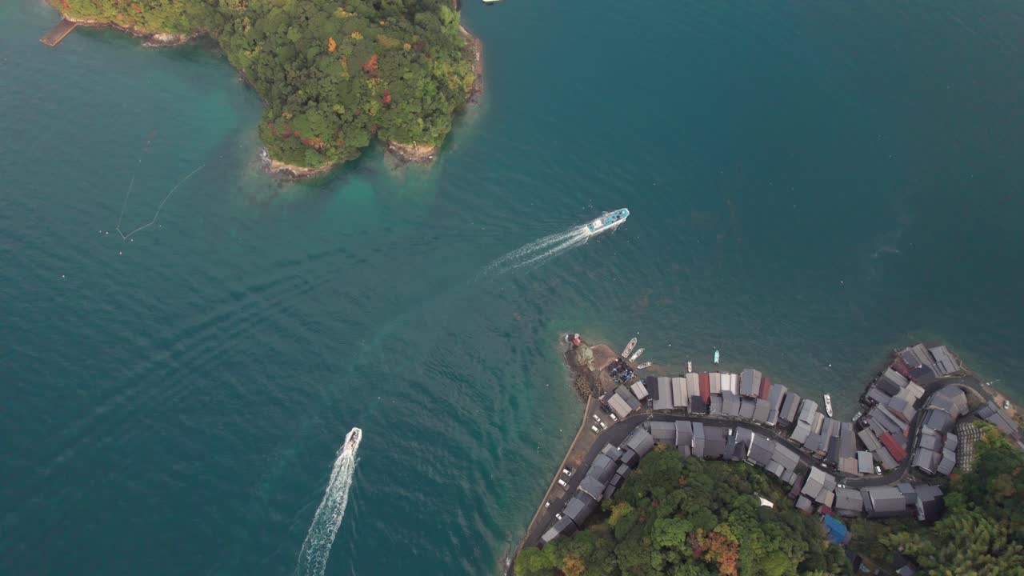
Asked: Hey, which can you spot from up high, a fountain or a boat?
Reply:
boat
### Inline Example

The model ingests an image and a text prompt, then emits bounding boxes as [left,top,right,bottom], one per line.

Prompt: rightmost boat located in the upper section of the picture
[585,207,630,234]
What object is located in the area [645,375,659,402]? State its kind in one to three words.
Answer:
building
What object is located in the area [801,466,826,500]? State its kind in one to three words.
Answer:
house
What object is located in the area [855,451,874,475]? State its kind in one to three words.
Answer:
house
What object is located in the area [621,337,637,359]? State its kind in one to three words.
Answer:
boat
